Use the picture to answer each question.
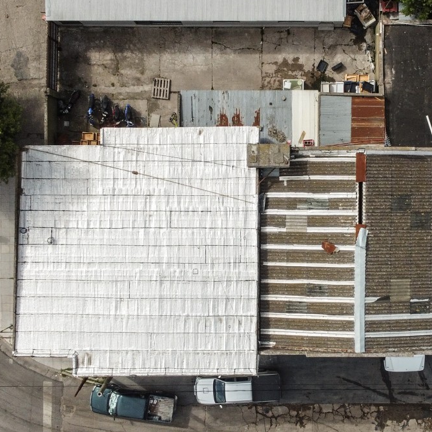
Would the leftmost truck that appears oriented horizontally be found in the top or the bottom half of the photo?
bottom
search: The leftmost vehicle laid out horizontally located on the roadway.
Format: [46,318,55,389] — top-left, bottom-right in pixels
[85,385,176,428]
